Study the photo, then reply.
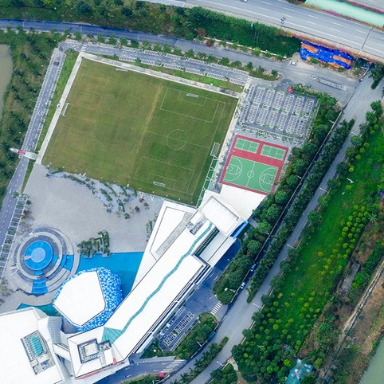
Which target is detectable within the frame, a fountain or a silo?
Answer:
fountain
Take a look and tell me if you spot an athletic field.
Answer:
Yes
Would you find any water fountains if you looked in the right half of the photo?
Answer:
No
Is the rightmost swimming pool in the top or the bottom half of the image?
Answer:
bottom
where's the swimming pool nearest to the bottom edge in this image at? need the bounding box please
[17,303,65,317]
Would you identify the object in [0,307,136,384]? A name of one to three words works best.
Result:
building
